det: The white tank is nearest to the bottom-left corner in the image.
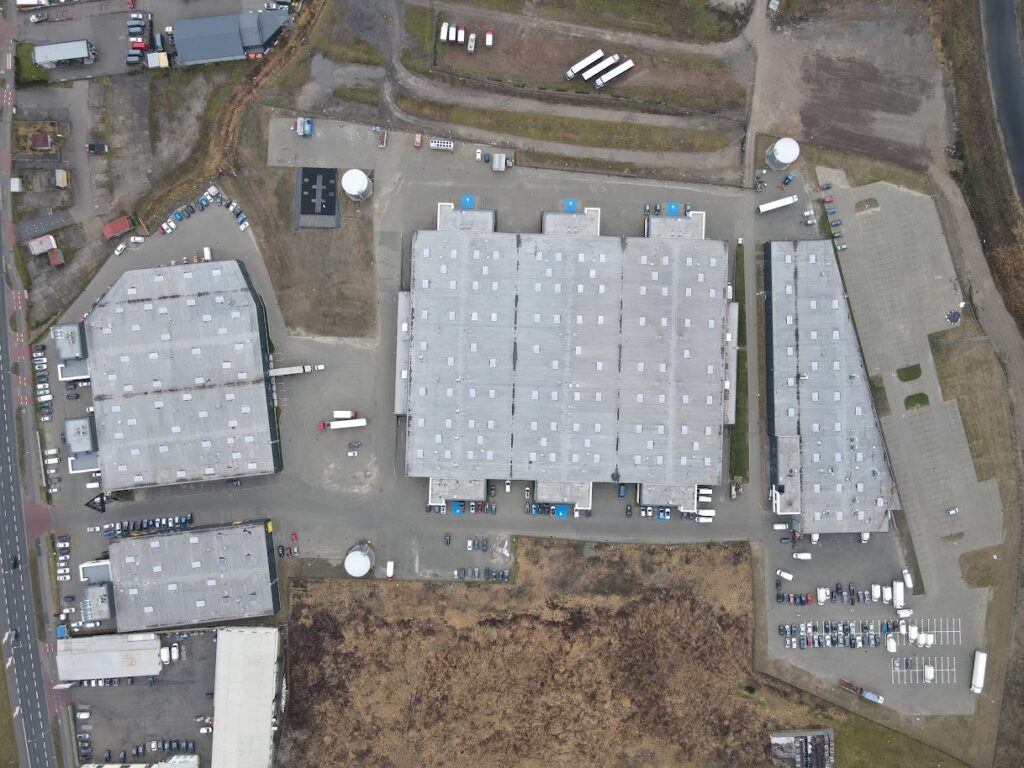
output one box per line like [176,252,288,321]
[344,542,379,577]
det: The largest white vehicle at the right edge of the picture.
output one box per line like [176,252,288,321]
[970,649,987,693]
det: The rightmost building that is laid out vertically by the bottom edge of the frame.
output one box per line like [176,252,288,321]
[212,623,283,768]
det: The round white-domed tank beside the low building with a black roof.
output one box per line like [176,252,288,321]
[342,169,376,205]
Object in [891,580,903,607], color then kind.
white vehicle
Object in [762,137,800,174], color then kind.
white storage tank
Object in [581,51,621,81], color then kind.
white truck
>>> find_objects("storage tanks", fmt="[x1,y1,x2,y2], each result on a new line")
[344,542,379,577]
[762,137,800,174]
[342,169,376,205]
